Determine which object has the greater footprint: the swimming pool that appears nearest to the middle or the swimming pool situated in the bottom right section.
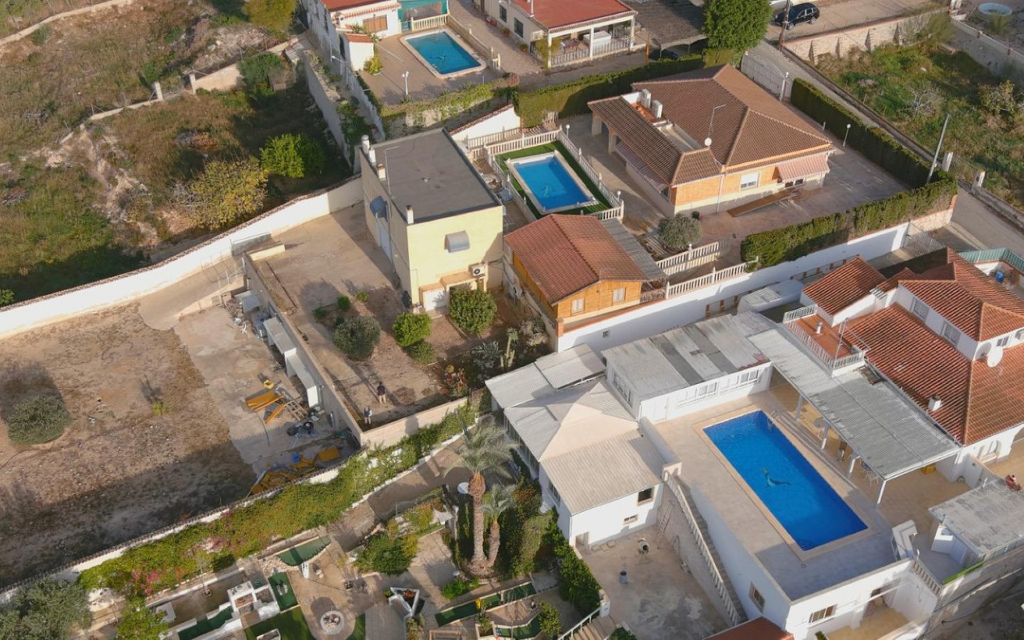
the swimming pool situated in the bottom right section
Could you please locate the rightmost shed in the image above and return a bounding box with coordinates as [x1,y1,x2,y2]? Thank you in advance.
[928,468,1024,571]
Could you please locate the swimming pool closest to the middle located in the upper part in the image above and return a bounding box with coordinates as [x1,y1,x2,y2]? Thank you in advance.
[506,153,598,213]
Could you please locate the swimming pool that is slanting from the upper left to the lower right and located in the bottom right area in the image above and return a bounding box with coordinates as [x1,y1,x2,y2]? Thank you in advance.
[693,403,879,559]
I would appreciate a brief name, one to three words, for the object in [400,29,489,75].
swimming pool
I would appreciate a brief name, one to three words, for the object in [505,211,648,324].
house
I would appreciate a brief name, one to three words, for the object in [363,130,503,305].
house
